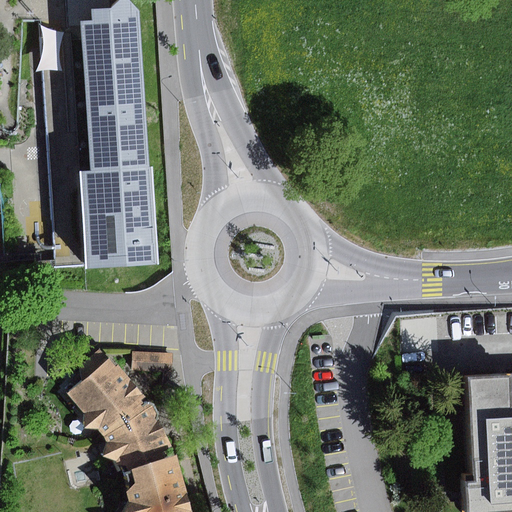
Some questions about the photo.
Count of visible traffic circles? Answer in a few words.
1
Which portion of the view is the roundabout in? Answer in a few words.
center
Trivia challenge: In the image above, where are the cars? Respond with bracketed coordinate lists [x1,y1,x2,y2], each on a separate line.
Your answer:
[485,314,496,334]
[326,466,346,476]
[226,440,238,464]
[322,442,344,453]
[404,363,425,373]
[312,357,334,367]
[507,313,512,334]
[462,314,473,336]
[315,382,338,392]
[474,314,484,336]
[433,267,454,277]
[402,352,426,363]
[320,430,342,441]
[317,393,338,404]
[313,370,333,380]
[450,317,462,342]
[208,54,222,79]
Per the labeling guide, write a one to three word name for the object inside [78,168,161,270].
building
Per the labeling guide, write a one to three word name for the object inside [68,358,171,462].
house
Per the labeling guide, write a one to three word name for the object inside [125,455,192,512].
house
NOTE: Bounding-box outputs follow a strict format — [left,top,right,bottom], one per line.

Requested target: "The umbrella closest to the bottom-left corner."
[69,420,83,434]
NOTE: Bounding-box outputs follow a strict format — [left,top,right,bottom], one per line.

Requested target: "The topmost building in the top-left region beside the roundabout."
[80,0,150,170]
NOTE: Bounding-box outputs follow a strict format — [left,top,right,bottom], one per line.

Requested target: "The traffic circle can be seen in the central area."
[186,180,330,328]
